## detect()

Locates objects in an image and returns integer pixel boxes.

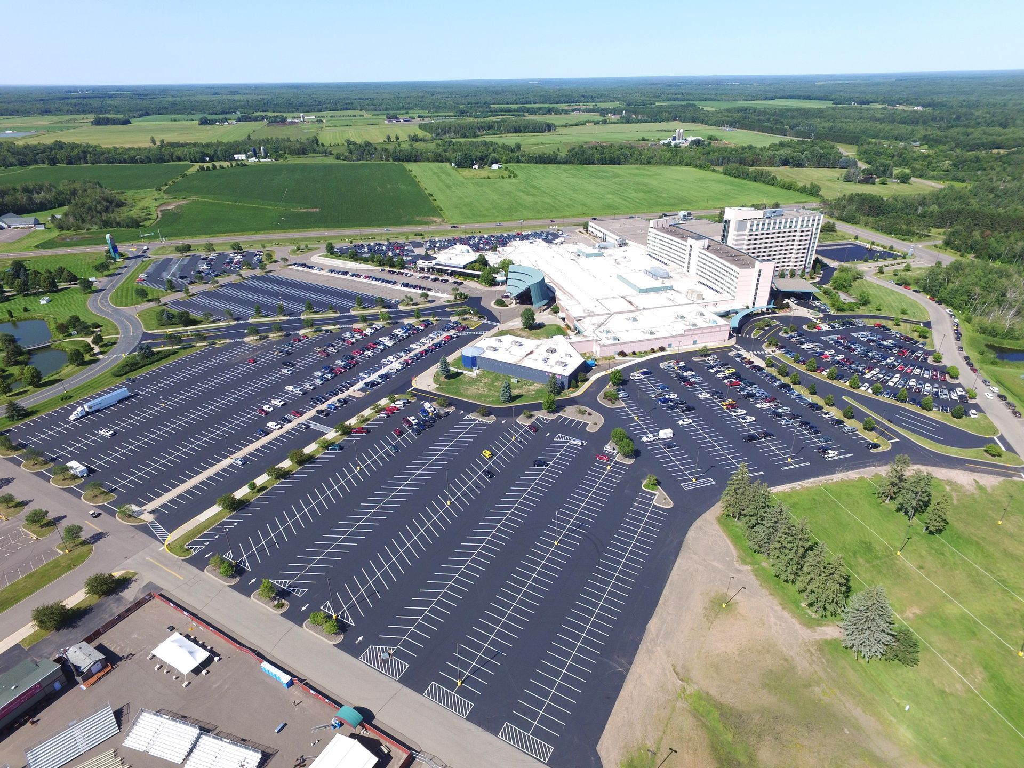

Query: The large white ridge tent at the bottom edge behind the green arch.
[308,733,381,768]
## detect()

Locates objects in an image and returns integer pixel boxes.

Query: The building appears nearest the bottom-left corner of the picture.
[0,652,67,732]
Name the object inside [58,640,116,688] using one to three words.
building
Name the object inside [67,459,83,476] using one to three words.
vehicle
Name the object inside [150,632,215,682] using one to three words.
tent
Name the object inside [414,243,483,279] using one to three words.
building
